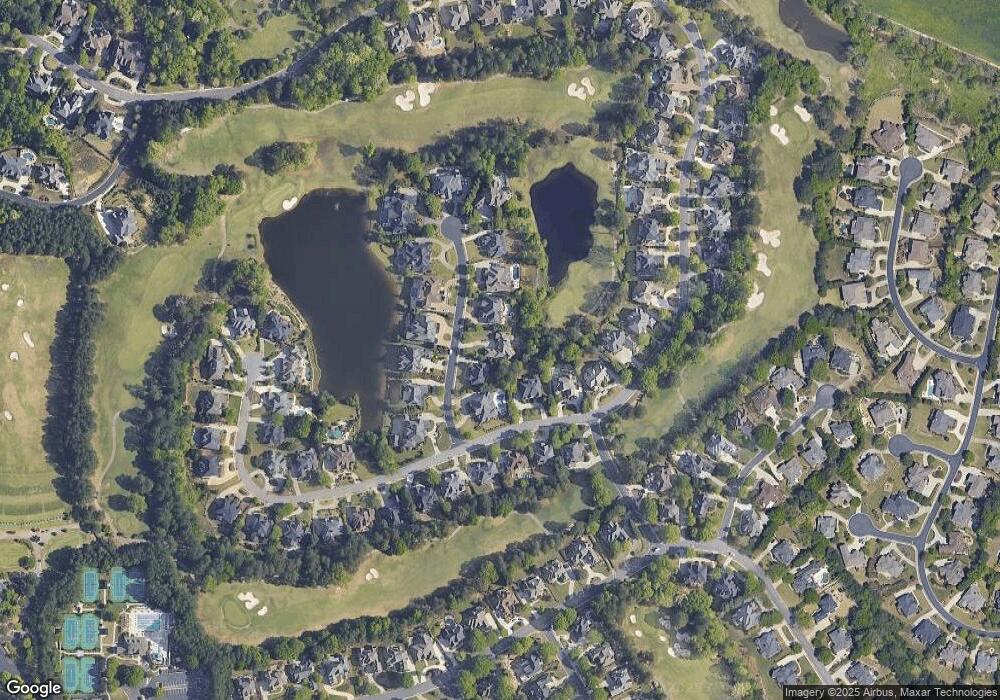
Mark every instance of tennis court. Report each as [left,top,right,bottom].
[81,657,100,693]
[64,657,82,693]
[110,567,128,602]
[82,567,100,602]
[64,614,82,650]
[81,614,100,650]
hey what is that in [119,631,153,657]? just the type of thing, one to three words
building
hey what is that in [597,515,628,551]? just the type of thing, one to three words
house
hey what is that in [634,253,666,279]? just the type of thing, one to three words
house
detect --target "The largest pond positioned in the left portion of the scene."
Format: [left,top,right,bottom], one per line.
[260,187,393,433]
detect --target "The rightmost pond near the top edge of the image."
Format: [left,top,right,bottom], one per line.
[776,0,852,62]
